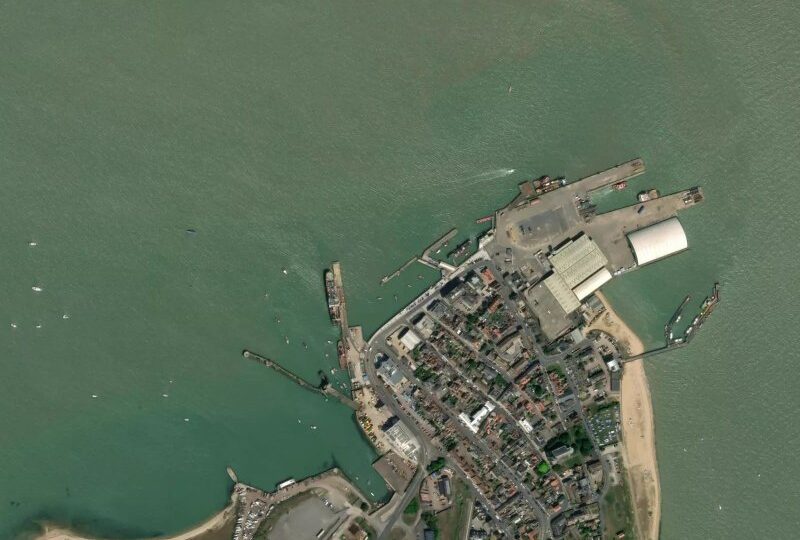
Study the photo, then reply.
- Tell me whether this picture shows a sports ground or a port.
port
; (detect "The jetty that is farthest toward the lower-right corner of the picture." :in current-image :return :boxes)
[620,284,720,365]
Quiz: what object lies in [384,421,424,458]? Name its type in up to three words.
building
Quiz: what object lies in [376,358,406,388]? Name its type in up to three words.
building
